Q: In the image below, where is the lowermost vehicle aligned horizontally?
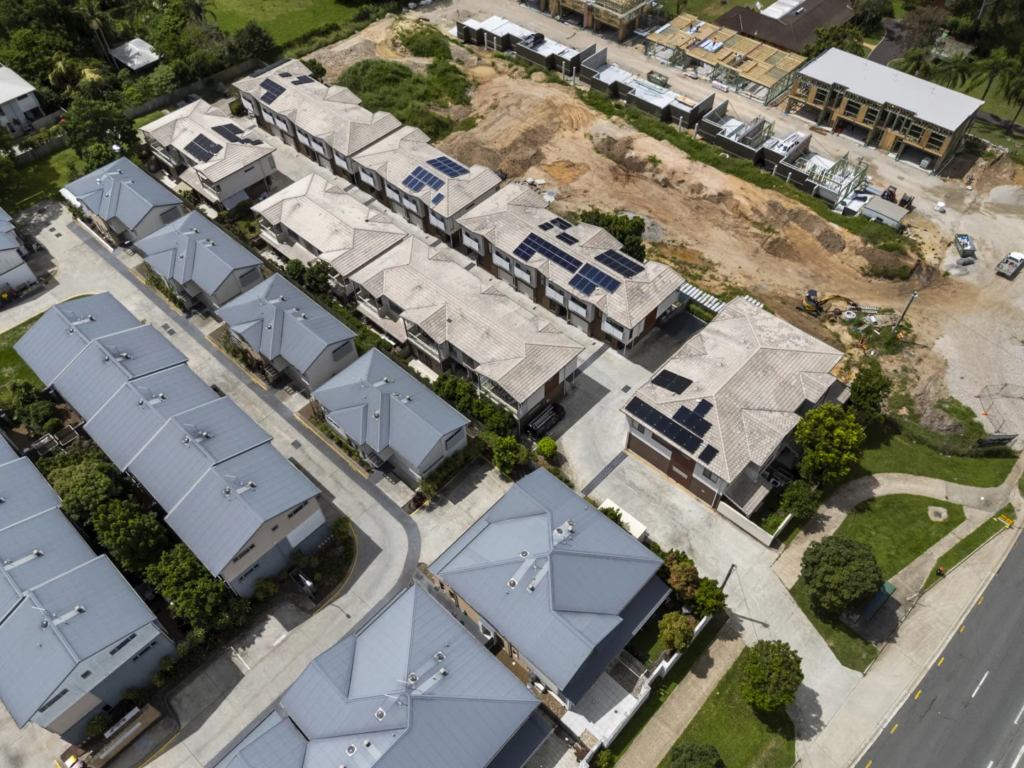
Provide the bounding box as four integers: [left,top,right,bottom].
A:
[800,290,862,317]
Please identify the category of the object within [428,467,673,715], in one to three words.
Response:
house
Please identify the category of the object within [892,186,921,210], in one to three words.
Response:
work vehicle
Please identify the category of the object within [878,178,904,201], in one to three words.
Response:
work vehicle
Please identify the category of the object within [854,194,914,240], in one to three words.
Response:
shed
